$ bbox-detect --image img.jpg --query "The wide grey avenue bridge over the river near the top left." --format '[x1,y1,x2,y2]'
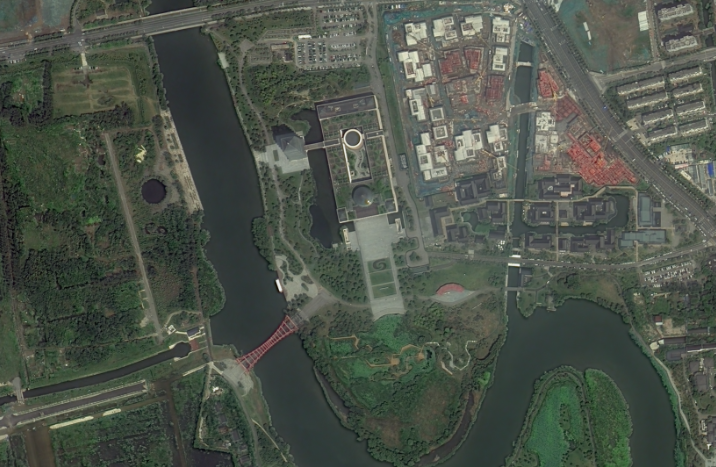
[142,5,208,37]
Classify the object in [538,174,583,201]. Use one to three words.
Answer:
house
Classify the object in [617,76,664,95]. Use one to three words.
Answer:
building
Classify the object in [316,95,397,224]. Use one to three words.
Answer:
building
